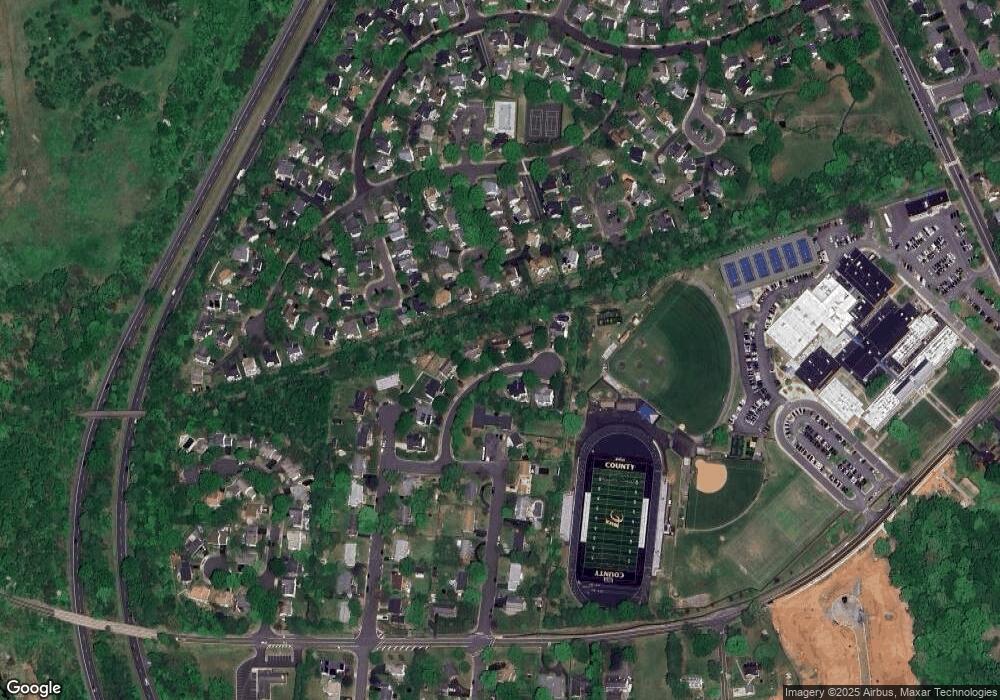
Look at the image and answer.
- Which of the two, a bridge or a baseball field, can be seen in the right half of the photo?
baseball field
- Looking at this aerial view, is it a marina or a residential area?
residential area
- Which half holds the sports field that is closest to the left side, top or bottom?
bottom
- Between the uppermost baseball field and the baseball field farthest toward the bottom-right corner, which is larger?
the uppermost baseball field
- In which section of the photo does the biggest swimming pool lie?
top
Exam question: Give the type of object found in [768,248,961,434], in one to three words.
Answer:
building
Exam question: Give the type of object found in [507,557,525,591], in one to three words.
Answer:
house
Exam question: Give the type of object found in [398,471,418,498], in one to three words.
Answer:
house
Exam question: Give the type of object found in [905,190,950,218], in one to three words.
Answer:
building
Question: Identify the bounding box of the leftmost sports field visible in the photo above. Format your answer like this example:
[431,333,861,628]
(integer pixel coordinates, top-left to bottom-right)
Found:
[580,455,649,585]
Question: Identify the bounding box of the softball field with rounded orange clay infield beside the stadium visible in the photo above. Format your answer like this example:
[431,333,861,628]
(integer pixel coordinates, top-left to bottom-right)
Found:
[687,458,767,530]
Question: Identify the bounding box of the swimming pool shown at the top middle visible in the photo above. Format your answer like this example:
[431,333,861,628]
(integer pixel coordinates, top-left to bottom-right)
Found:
[494,103,516,137]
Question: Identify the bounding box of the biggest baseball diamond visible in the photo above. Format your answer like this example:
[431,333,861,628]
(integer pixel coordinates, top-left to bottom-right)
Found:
[604,281,732,434]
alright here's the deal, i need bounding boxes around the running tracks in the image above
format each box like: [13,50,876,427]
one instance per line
[568,424,662,607]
